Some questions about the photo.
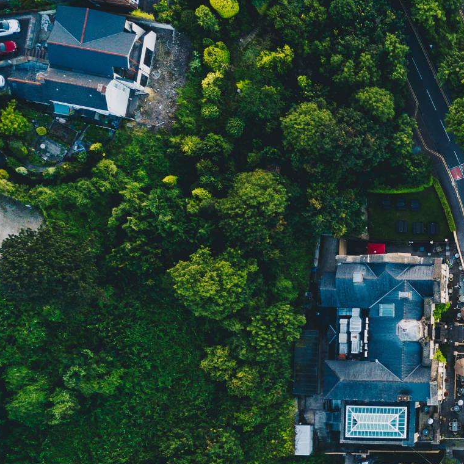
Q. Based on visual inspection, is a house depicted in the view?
Yes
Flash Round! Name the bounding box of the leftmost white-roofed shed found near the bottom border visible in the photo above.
[296,424,317,456]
